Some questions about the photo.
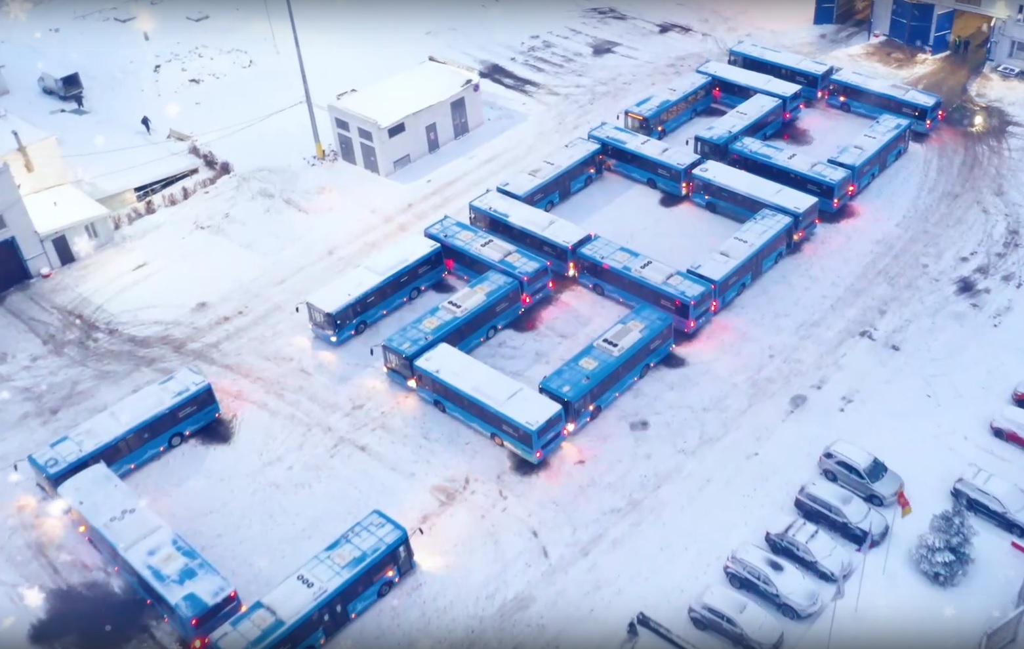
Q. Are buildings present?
Yes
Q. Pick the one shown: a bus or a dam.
bus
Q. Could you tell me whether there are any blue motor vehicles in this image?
Yes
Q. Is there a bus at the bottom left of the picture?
Yes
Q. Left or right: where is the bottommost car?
right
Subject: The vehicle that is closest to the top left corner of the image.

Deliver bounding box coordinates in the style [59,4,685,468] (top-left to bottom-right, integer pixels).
[36,71,81,105]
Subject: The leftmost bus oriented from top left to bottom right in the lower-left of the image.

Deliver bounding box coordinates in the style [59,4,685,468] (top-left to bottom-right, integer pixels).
[57,458,243,642]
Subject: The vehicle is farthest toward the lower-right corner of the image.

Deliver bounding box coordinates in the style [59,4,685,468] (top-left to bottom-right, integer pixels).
[952,466,1024,537]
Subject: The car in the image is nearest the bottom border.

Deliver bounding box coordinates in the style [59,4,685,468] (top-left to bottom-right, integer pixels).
[688,579,789,649]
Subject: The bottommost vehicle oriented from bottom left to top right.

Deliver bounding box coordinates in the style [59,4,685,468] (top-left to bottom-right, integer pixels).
[210,507,422,649]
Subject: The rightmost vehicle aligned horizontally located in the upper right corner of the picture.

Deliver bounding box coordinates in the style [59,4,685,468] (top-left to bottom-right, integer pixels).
[820,69,943,129]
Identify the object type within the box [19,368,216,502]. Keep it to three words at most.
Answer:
bus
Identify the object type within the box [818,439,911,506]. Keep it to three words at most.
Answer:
car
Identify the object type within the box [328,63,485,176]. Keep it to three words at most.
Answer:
building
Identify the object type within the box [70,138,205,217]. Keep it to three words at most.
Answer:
shed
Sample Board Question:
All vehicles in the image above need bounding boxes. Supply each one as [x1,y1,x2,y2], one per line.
[531,306,672,429]
[618,72,711,138]
[404,340,564,458]
[991,400,1024,446]
[767,512,859,579]
[57,458,243,642]
[36,71,81,105]
[725,539,821,614]
[464,189,590,272]
[374,272,519,384]
[683,159,818,238]
[687,94,782,164]
[19,368,216,502]
[687,208,801,308]
[582,123,701,192]
[299,238,443,341]
[820,69,943,129]
[419,218,549,306]
[688,579,789,649]
[210,507,422,649]
[818,439,911,506]
[569,233,713,329]
[724,42,834,96]
[952,466,1024,537]
[500,139,609,209]
[691,61,801,119]
[796,478,893,547]
[826,113,918,191]
[720,136,853,209]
